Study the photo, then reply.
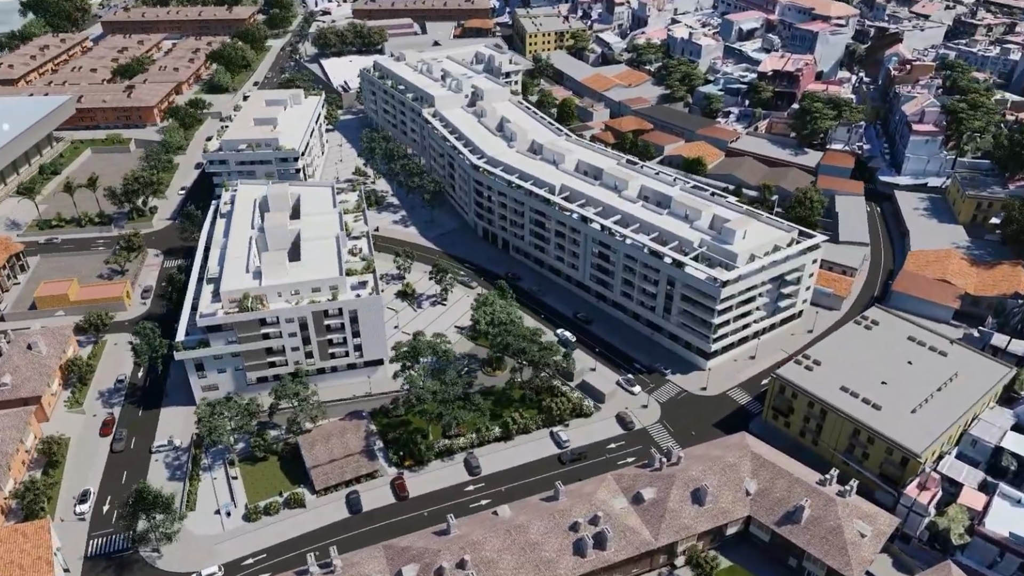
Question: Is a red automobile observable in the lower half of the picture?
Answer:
Yes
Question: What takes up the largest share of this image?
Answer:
buildings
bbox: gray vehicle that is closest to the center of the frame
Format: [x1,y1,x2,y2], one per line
[459,275,477,288]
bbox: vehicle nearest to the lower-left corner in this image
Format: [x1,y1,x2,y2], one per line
[74,488,95,515]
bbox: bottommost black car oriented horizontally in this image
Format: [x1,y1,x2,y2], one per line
[559,449,588,464]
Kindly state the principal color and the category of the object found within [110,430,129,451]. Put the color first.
gray car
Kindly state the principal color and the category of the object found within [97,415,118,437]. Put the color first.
red car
